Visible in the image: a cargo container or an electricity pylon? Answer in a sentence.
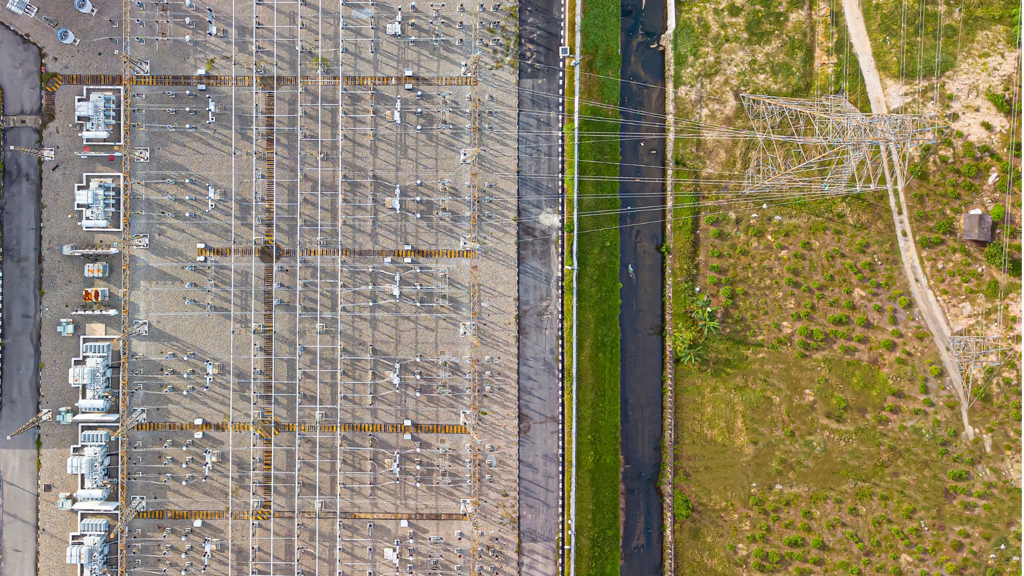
I can see an electricity pylon in this picture.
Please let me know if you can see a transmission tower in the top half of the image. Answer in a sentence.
Yes, the scene does show a transmission tower in the top half of the image.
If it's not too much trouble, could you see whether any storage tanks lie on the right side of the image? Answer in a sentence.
No, there is no storage tank on the right side of the image.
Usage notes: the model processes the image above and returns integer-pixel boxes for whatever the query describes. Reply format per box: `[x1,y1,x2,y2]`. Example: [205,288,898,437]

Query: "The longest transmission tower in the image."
[737,91,956,193]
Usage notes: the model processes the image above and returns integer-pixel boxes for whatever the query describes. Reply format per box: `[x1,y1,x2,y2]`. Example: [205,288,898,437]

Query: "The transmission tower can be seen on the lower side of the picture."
[948,333,1014,408]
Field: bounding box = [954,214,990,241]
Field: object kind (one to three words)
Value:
shed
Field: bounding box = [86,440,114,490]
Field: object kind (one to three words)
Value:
storage tank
